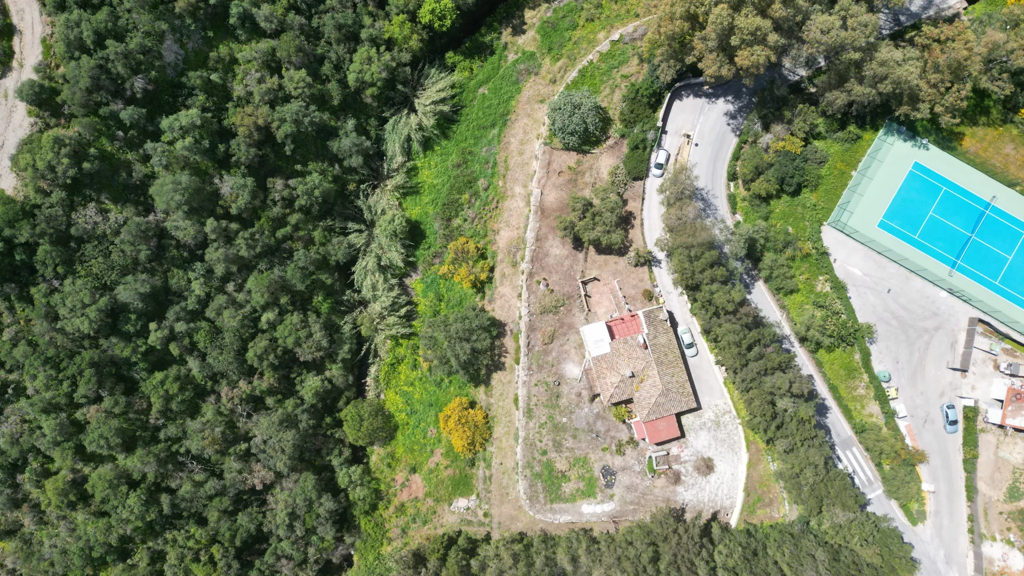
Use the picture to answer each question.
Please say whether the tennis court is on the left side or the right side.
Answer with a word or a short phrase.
right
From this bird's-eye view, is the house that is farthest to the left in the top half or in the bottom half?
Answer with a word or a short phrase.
bottom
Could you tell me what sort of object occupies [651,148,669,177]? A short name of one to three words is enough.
car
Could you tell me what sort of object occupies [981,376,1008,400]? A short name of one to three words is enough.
shed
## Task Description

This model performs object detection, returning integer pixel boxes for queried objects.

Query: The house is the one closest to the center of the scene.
[577,304,698,450]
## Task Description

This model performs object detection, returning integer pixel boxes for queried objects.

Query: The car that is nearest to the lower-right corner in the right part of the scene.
[938,402,959,434]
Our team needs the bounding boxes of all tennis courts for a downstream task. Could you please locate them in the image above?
[828,122,1024,333]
